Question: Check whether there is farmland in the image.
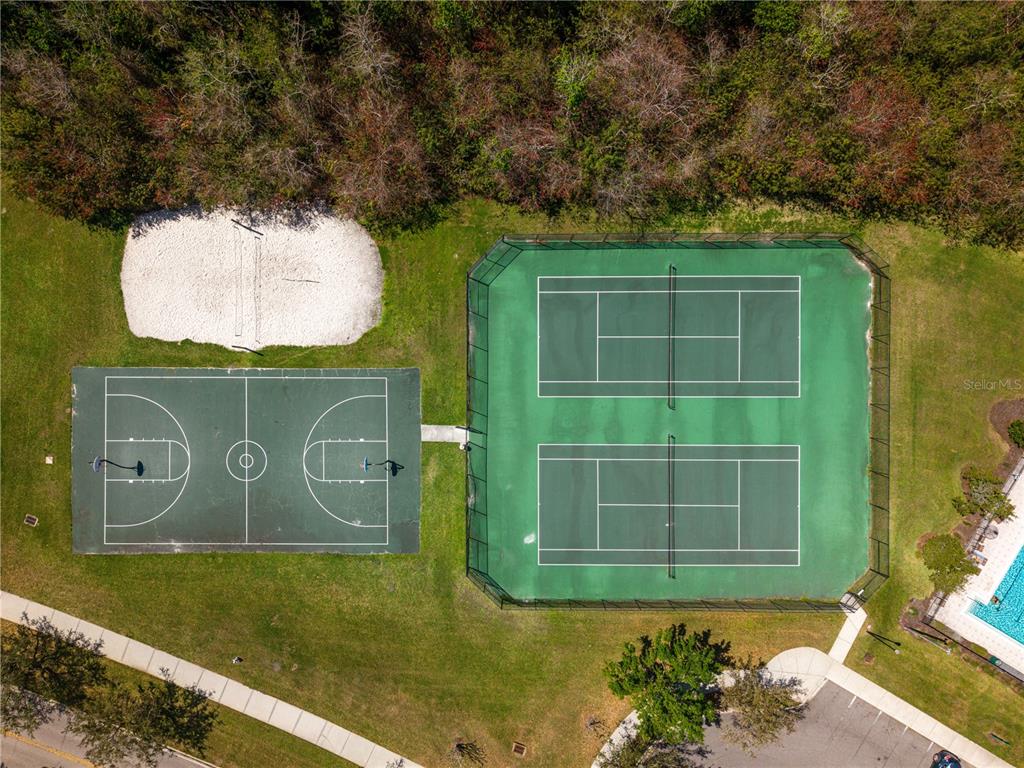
No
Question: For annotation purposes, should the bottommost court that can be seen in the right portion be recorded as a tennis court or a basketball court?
tennis court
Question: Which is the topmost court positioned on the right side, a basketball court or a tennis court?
tennis court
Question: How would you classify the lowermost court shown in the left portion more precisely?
basketball court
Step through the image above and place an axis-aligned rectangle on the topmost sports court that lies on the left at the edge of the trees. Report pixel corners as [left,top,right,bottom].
[121,200,384,352]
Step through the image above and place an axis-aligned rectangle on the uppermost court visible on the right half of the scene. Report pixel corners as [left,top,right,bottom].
[538,276,801,398]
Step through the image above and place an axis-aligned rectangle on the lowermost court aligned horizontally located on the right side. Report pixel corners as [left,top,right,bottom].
[538,444,801,575]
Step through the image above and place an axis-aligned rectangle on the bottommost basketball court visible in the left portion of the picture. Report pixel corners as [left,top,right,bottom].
[72,367,420,554]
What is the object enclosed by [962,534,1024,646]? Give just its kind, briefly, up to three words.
swimming pool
